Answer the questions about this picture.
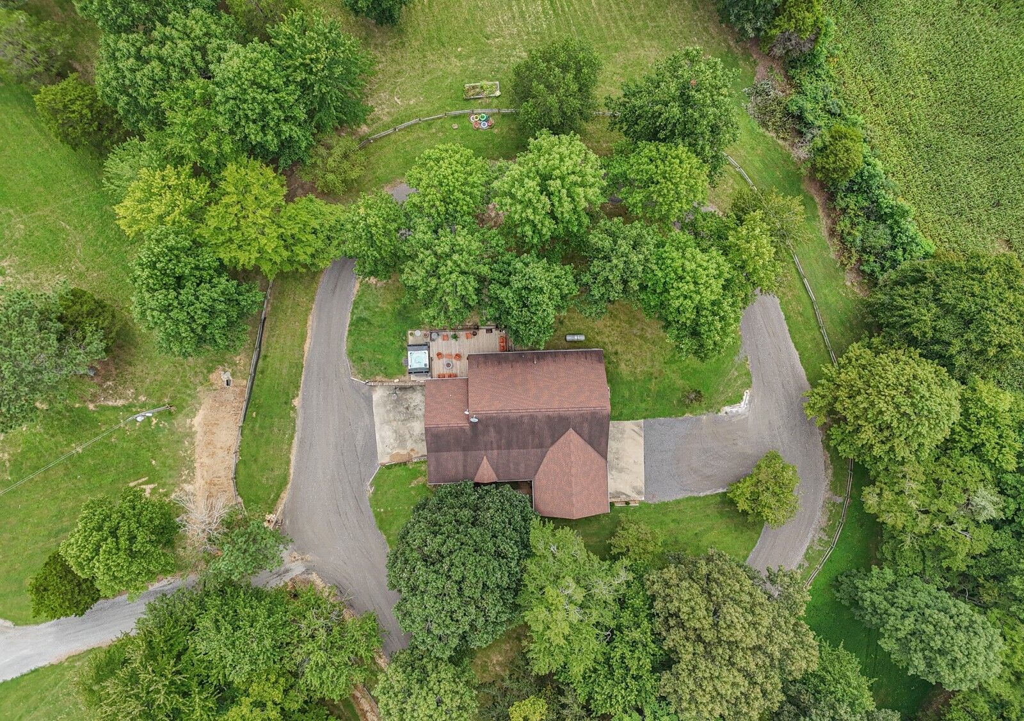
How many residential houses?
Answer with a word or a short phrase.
1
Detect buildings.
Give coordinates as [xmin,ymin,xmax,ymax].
[423,348,611,519]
